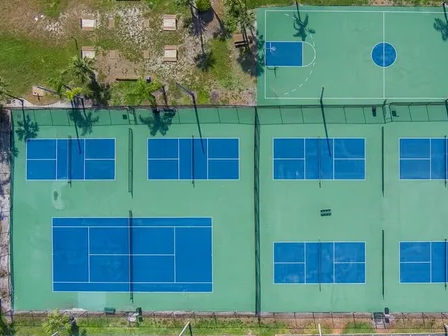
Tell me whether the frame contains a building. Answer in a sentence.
No, the picture doesn't show any building.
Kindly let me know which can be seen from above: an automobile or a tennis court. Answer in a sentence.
Of the two, only a tennis court appears.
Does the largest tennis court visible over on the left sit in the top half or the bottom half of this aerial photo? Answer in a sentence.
It is in the bottom half that the largest tennis court visible over on the left appears.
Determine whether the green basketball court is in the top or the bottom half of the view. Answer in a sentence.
The green basketball court sits in the top half of the picture.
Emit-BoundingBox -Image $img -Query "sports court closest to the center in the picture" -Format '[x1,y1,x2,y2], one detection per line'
[147,138,240,180]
